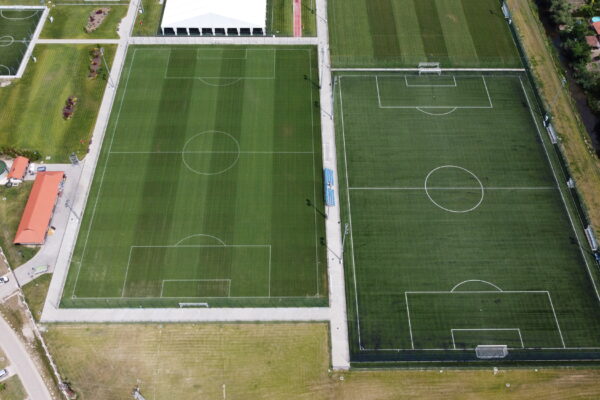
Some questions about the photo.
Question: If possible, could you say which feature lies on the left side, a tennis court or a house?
house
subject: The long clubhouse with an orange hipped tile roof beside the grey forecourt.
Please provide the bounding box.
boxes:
[12,171,66,248]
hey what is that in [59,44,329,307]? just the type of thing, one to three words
sports field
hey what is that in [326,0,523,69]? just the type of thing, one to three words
sports field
